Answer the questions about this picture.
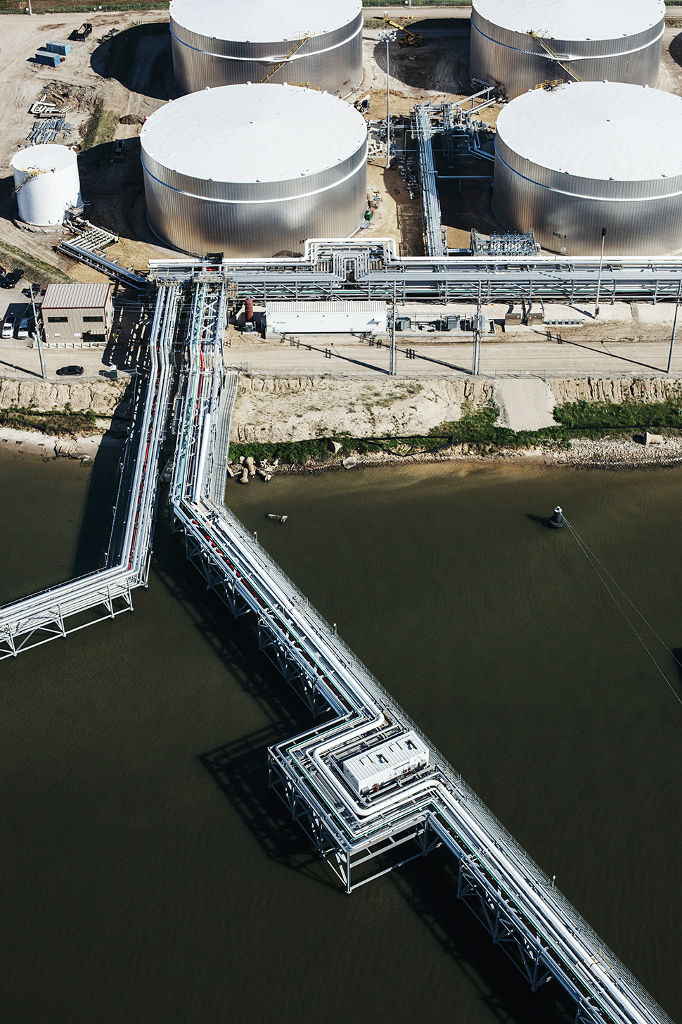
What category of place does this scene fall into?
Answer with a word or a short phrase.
industrial area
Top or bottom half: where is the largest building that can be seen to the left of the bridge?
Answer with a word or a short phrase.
top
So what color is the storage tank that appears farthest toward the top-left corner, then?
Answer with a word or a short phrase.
white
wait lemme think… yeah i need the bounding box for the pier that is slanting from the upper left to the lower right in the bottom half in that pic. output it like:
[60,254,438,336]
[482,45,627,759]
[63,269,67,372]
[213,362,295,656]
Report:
[168,267,679,1024]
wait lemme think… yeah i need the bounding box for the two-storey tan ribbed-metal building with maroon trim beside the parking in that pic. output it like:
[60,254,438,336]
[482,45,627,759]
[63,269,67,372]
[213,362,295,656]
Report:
[37,277,114,343]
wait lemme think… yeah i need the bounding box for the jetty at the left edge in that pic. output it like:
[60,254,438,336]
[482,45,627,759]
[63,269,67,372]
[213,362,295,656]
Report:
[0,268,189,662]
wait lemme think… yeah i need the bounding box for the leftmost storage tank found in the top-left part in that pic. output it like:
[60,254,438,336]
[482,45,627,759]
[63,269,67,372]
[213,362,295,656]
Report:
[8,138,86,229]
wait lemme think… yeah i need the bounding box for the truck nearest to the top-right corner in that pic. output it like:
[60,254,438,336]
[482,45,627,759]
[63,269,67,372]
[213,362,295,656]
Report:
[351,91,374,112]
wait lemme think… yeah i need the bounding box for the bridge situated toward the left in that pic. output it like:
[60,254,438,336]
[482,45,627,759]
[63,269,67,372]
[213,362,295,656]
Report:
[165,293,187,458]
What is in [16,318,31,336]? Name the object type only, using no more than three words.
car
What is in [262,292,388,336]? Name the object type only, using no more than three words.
building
